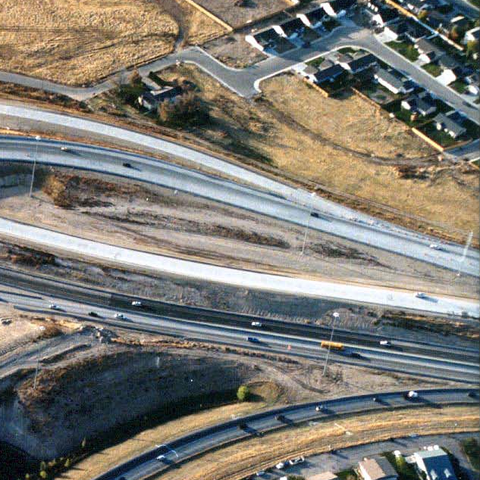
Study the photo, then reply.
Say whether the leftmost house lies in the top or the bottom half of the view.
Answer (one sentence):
Seen from above, the leftmost house lies in the top half of the view.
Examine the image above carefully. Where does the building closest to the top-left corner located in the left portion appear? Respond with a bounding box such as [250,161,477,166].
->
[138,87,178,107]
